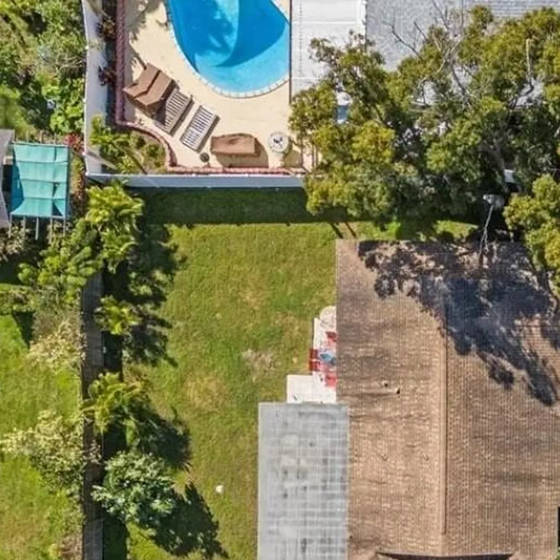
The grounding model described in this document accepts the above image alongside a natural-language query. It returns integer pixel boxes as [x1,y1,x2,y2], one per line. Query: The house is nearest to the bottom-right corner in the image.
[258,234,560,560]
